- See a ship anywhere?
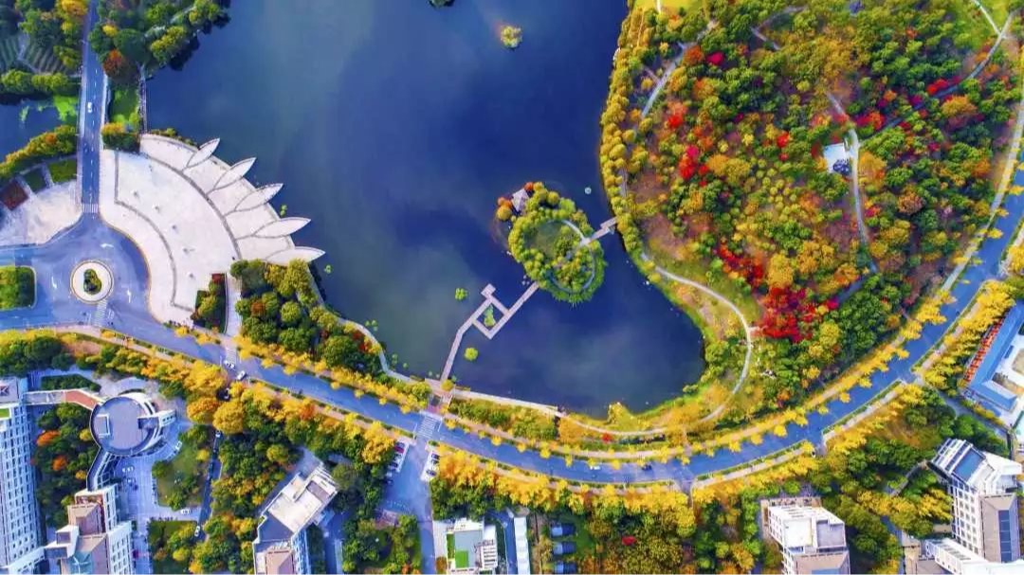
No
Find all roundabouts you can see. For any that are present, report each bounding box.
[71,261,113,302]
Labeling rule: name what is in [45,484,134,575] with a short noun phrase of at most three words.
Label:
building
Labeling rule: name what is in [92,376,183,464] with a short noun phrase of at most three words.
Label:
building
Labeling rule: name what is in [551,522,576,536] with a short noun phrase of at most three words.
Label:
shed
